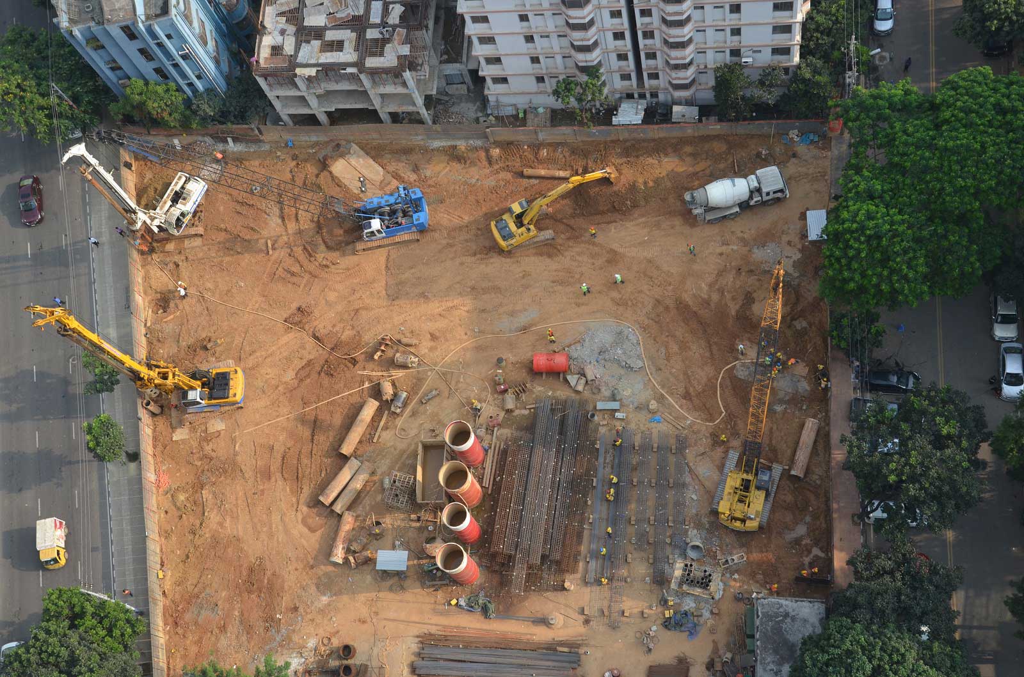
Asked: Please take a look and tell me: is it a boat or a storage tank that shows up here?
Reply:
storage tank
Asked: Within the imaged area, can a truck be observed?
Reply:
Yes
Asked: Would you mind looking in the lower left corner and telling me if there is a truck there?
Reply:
Yes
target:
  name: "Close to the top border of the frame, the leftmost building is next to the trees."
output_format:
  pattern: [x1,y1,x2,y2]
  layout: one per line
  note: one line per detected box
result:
[54,0,268,103]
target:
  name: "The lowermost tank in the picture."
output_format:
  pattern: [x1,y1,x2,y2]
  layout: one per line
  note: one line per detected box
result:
[436,543,485,587]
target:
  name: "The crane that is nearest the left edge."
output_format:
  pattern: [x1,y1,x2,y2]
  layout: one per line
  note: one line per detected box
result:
[78,124,432,255]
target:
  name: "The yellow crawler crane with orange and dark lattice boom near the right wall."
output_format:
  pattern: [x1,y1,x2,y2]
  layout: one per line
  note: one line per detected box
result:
[706,257,784,535]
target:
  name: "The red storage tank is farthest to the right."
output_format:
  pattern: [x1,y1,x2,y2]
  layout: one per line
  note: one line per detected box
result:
[532,354,568,385]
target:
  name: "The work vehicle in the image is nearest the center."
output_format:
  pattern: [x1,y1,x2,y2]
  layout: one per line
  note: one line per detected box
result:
[485,163,620,259]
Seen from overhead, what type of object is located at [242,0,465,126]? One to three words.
building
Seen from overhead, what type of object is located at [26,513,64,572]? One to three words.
truck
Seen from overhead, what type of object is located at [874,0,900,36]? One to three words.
car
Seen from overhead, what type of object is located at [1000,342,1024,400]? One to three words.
car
